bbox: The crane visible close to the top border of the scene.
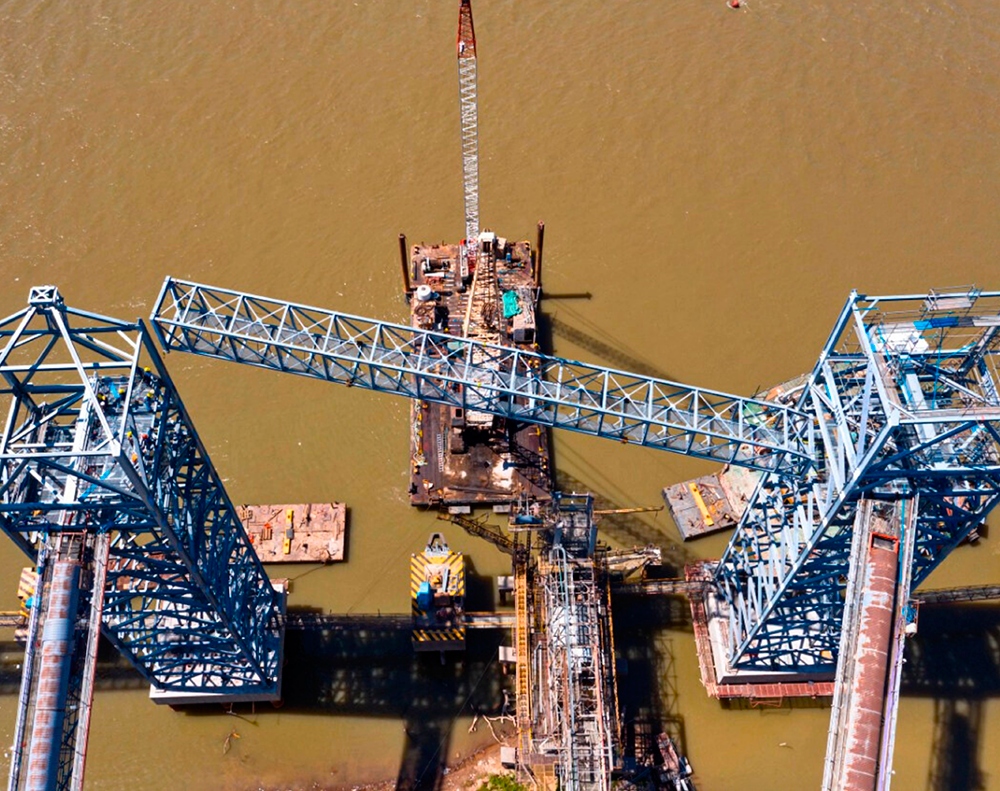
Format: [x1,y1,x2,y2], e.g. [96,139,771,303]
[455,0,481,292]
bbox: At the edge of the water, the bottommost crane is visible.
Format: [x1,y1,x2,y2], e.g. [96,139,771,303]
[447,231,517,465]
